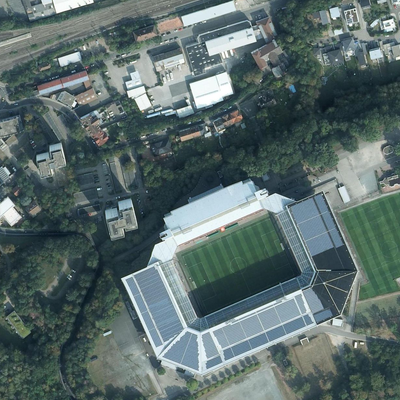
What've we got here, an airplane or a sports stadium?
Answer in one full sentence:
There is a sports stadium in the scene.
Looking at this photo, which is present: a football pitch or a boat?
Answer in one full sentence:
It is a football pitch that can be seen here.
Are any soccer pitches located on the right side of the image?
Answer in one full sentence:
Yes, on the right side of the image there is a soccer pitch.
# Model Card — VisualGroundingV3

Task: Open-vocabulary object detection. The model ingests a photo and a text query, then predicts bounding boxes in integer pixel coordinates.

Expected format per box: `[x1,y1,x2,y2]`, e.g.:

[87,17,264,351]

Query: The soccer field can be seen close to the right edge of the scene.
[340,190,400,299]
